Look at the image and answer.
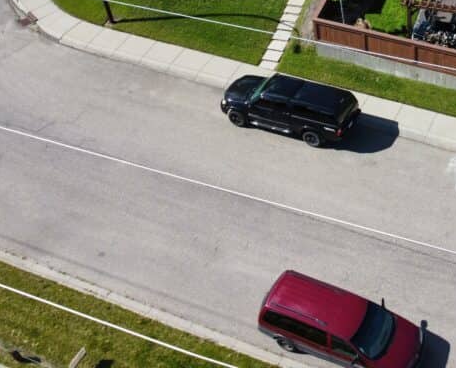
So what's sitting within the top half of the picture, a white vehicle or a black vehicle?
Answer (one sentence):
Looking within the top half of the picture, you will find a black vehicle.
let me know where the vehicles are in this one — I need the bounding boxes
[217,69,366,147]
[252,267,436,368]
